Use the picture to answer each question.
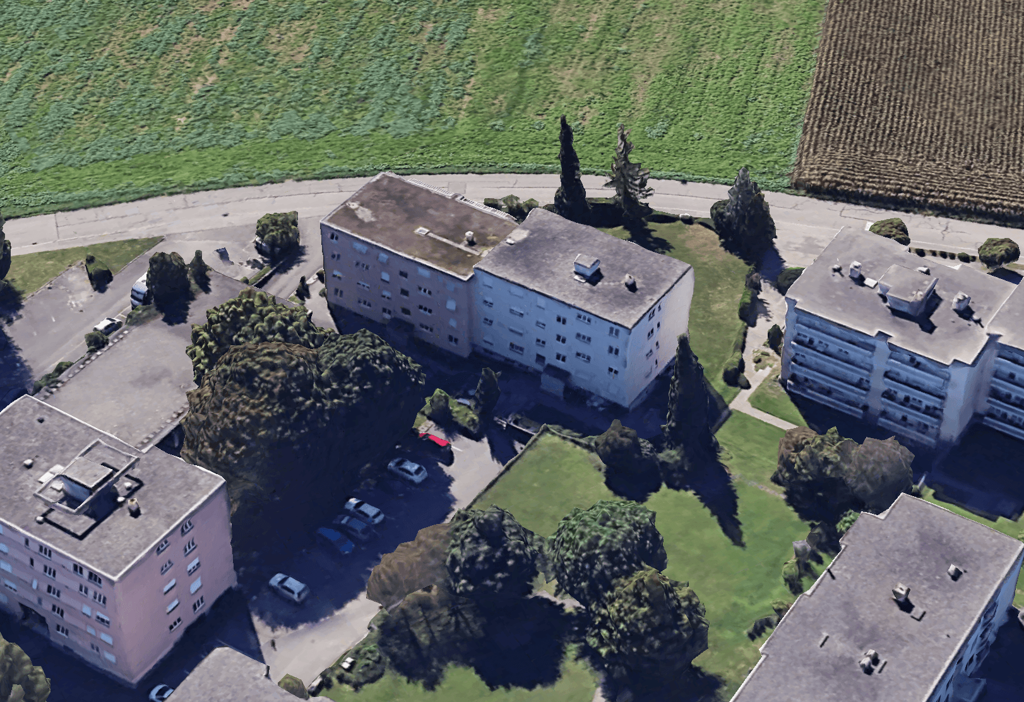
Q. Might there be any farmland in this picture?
Yes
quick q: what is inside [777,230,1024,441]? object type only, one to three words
building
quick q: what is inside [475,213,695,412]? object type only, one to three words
building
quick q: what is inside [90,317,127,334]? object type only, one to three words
car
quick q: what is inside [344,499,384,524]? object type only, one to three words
car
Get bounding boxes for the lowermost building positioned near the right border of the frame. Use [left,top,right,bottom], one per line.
[731,492,1024,702]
